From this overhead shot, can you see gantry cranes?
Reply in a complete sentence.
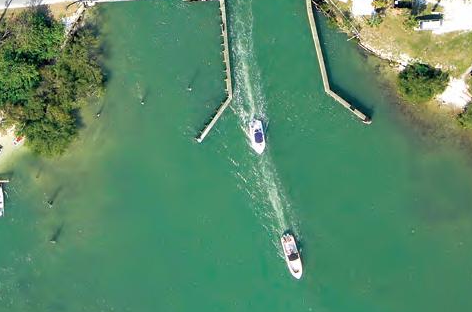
No, no gantry crane is visible in the view.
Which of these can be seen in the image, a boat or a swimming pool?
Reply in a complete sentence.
There is a boat in the scene.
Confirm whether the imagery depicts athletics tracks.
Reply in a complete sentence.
No, no athletics track can be seen from above.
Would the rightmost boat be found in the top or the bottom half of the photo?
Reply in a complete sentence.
You can find the rightmost boat in the bottom half.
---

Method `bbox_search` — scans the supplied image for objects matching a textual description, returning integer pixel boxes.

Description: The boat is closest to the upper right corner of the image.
[248,119,265,154]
